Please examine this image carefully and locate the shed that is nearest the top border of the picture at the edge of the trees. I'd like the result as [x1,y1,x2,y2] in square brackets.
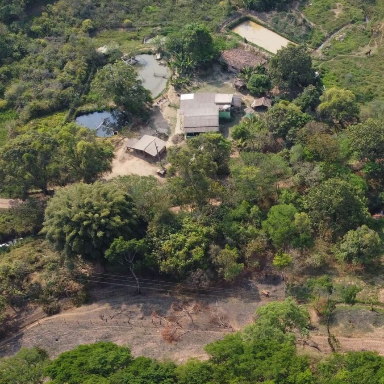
[221,47,267,77]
